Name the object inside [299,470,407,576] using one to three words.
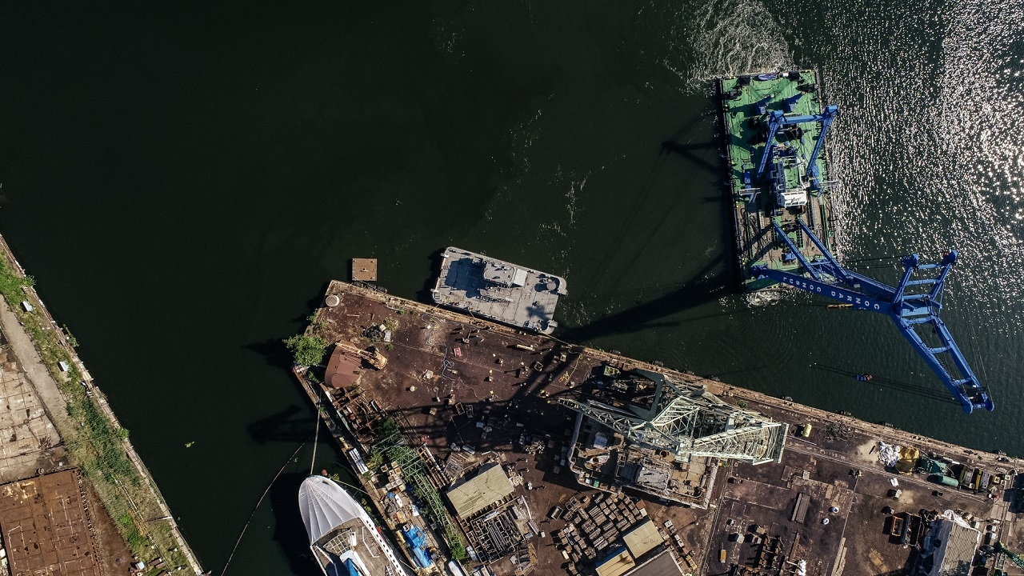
boat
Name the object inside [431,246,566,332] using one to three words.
boat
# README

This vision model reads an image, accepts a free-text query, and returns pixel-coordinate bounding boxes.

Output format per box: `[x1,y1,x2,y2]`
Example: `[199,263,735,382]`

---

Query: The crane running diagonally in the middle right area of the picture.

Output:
[720,67,997,417]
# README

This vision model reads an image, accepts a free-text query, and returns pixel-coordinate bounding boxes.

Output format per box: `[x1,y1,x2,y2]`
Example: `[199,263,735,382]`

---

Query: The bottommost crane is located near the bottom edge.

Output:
[991,541,1024,570]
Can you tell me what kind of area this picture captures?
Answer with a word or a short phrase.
port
